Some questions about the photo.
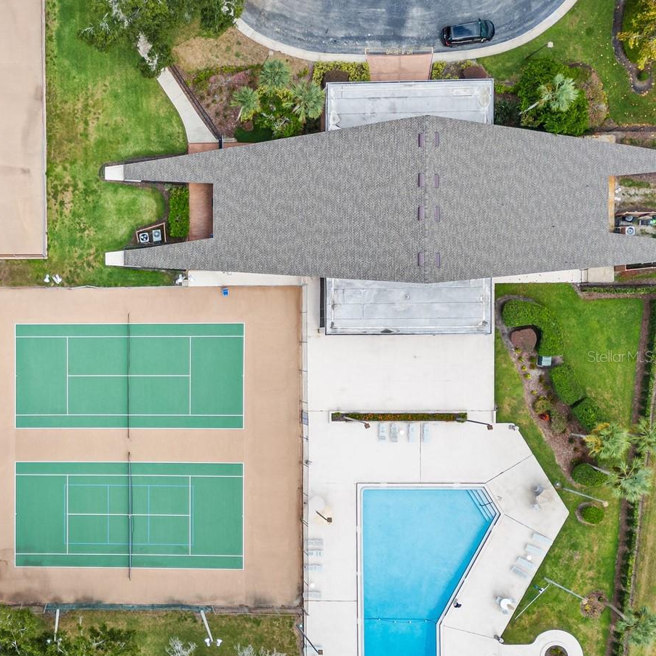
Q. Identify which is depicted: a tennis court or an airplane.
tennis court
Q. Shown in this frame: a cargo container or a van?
van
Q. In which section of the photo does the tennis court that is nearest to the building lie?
left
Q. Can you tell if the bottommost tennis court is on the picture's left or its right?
left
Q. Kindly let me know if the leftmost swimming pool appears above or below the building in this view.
below it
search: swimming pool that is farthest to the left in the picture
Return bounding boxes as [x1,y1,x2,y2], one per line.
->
[358,483,503,656]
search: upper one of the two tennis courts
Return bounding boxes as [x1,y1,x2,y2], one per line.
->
[14,313,246,439]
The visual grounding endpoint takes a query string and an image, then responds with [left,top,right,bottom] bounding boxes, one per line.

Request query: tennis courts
[13,452,246,580]
[14,313,246,439]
